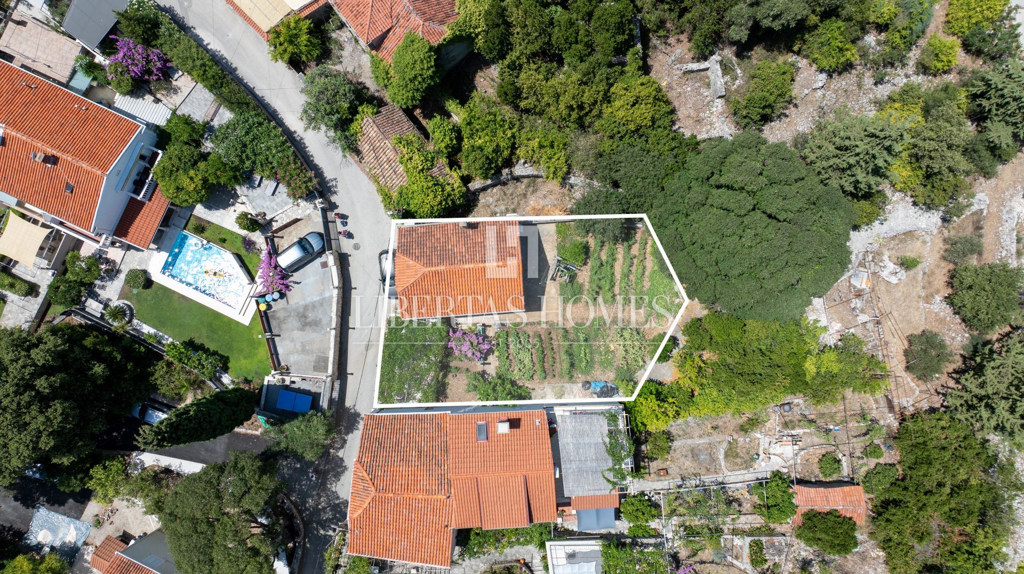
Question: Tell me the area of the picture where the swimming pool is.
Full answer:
Look in the left portion of the view to spot the swimming pool.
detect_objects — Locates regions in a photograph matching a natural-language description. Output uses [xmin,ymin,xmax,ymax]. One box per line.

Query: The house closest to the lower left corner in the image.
[90,529,181,574]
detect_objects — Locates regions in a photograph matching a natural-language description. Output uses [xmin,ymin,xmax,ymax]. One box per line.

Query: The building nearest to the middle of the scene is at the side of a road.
[393,219,528,321]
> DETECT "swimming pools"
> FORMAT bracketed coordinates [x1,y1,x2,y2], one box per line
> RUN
[159,229,256,316]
